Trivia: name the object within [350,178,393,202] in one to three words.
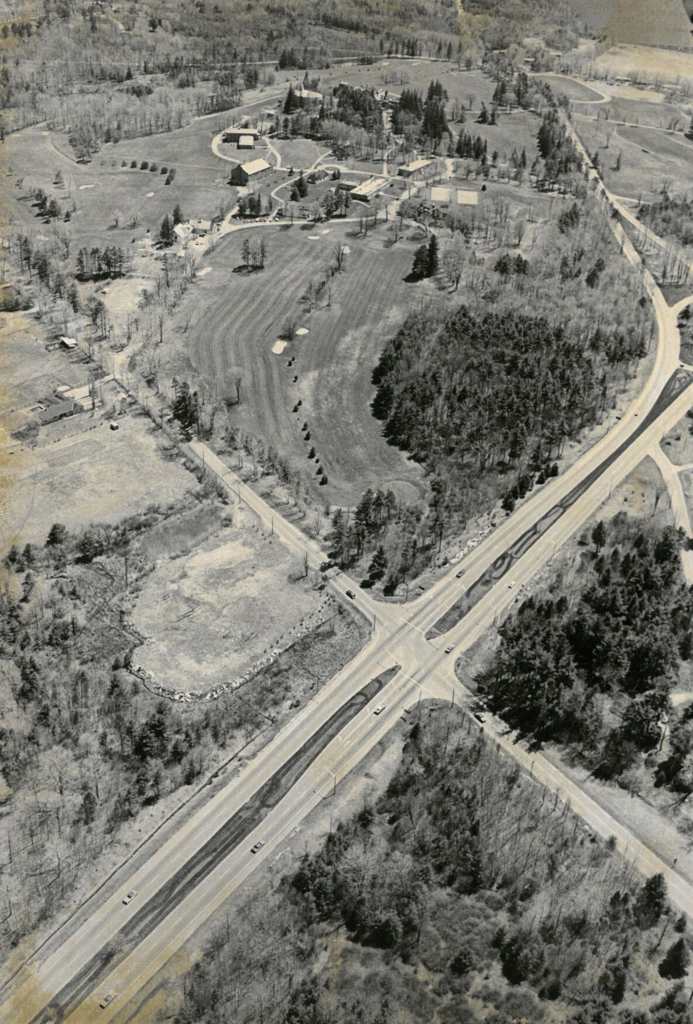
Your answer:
building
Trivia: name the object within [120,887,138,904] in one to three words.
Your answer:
car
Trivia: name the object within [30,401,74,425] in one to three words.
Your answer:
house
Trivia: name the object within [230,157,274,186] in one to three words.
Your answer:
barn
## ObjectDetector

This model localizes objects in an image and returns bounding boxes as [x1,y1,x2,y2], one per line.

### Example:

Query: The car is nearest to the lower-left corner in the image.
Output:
[96,989,116,1009]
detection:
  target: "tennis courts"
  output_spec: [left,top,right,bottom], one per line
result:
[431,187,452,201]
[457,190,478,204]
